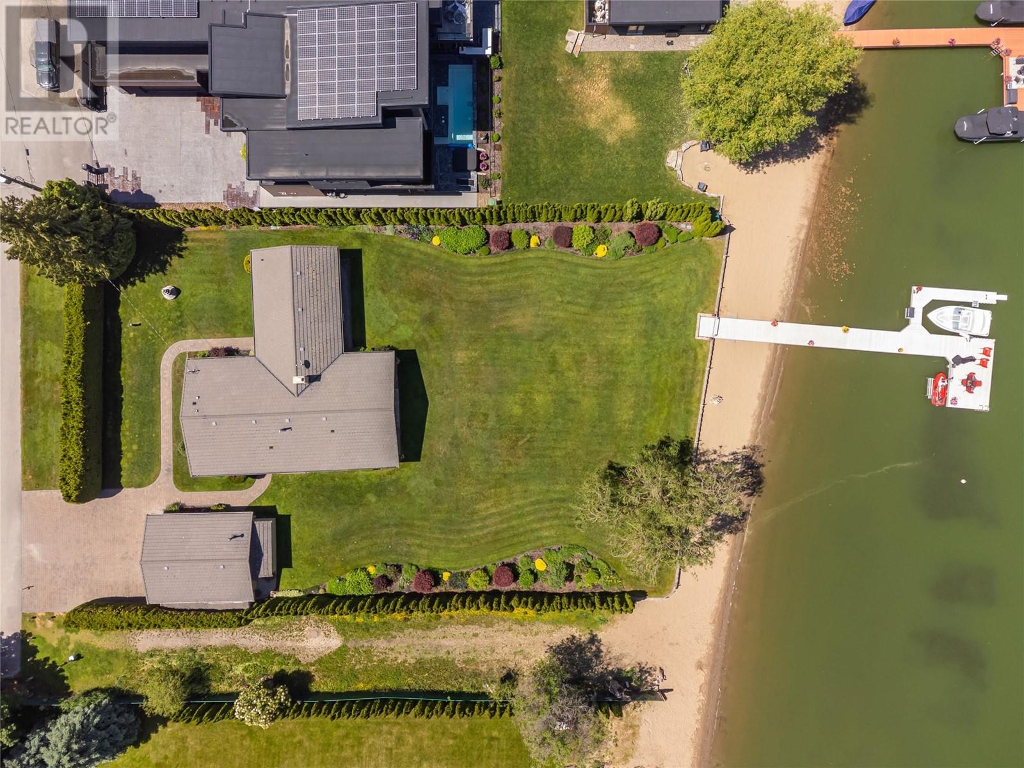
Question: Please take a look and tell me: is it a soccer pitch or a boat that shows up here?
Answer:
boat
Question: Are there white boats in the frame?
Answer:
Yes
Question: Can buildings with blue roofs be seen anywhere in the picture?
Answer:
No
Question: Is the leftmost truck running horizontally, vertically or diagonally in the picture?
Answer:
vertically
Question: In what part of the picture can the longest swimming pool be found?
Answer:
top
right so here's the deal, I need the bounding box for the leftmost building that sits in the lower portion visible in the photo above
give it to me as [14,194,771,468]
[140,510,260,606]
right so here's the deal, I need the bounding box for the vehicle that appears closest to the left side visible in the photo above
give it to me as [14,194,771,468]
[30,14,64,87]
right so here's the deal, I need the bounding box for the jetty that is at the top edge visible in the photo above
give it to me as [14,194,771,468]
[842,27,1024,110]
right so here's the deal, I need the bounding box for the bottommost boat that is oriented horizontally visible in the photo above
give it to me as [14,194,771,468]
[930,308,991,336]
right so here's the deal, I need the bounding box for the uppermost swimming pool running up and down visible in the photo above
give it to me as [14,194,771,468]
[434,62,475,144]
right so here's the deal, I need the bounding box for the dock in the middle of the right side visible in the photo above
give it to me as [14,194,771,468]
[695,286,1007,413]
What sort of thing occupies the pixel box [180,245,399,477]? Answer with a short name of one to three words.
house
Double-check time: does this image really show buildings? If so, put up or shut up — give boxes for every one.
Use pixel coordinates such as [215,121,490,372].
[180,245,399,477]
[67,0,473,196]
[140,510,260,606]
[583,0,721,40]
